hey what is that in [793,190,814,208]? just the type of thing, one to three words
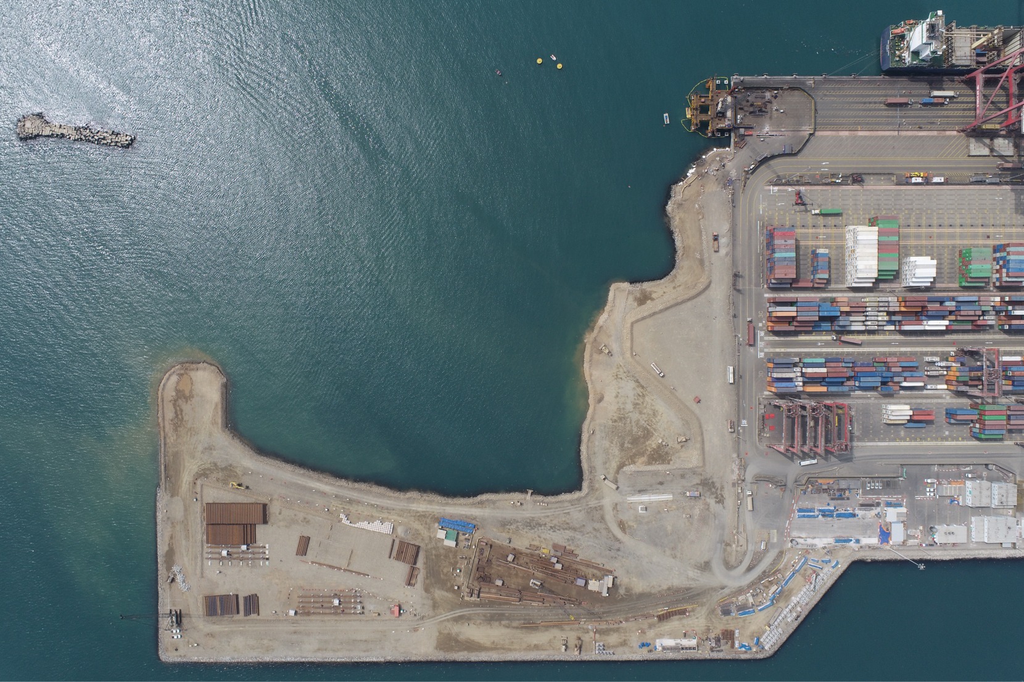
work vehicle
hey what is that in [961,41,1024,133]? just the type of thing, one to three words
container crane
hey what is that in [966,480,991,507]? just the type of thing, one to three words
building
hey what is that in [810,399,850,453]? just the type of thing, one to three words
container crane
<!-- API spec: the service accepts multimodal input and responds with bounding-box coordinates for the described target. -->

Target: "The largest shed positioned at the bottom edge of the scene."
[655,635,697,651]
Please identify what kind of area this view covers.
port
